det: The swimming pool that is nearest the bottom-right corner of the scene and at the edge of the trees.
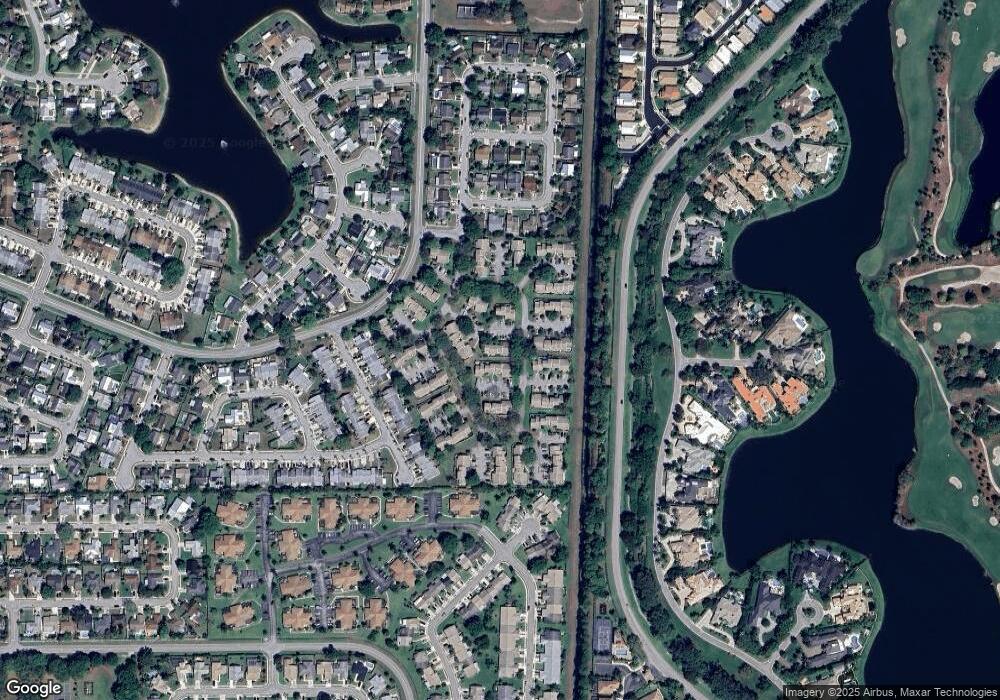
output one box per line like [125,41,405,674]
[848,633,862,650]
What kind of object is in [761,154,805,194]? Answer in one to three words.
house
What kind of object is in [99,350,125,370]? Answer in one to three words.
house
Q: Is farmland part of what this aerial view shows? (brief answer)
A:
No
